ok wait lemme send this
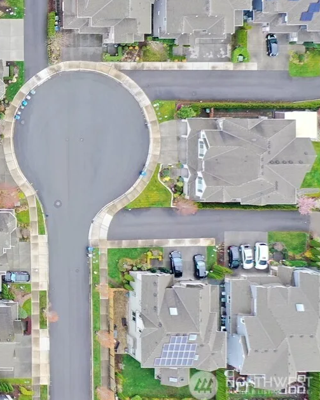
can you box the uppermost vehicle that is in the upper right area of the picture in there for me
[265,33,279,56]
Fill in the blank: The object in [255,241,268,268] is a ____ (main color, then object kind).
white vehicle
